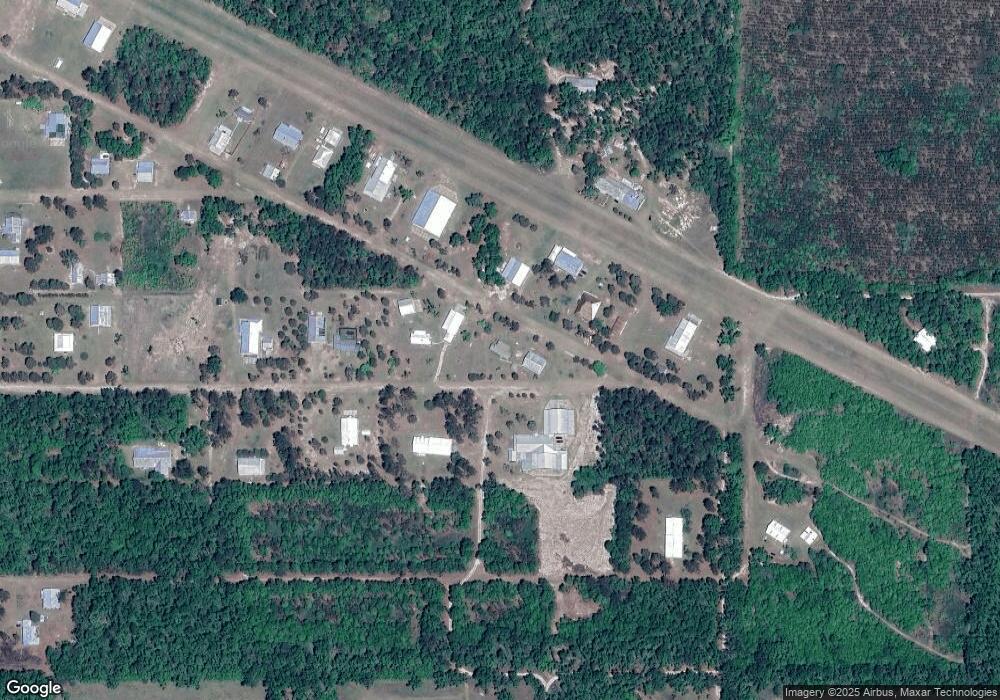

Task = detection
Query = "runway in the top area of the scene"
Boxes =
[122,0,1000,448]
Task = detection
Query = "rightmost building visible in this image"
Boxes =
[913,328,938,351]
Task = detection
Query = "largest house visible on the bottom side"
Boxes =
[509,436,567,470]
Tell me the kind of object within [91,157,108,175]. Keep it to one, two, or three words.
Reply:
house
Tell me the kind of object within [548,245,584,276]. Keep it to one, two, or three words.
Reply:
house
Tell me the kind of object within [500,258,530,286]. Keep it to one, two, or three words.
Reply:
hangar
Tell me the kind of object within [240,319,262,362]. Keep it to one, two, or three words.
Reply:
hangar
